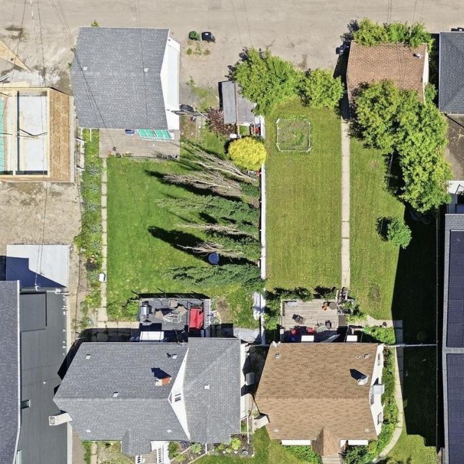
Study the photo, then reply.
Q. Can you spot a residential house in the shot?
Yes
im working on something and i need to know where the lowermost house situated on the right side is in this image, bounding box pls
[247,336,391,464]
